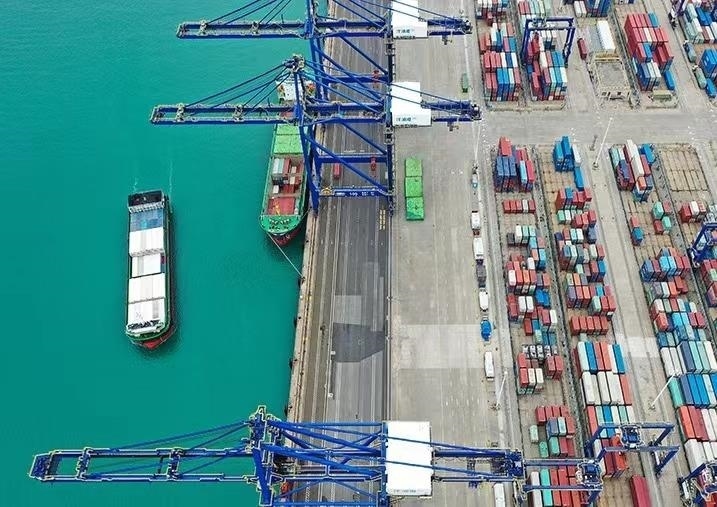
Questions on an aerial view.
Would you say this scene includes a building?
Yes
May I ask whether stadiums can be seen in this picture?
No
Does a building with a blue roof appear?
No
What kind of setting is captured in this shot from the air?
port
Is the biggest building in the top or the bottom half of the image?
top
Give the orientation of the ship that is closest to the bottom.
vertically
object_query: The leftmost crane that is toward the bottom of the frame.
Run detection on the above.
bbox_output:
[20,409,521,507]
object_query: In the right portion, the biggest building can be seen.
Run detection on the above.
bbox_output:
[592,60,632,99]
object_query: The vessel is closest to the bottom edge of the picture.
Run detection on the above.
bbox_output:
[127,189,177,352]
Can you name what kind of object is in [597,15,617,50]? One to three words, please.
shed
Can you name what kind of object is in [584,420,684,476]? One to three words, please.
container crane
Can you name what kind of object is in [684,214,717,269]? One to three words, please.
container crane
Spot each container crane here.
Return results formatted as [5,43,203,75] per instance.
[679,459,717,507]
[20,409,521,507]
[684,214,717,269]
[520,17,578,67]
[145,48,482,218]
[172,0,473,131]
[584,420,684,476]
[513,455,606,507]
